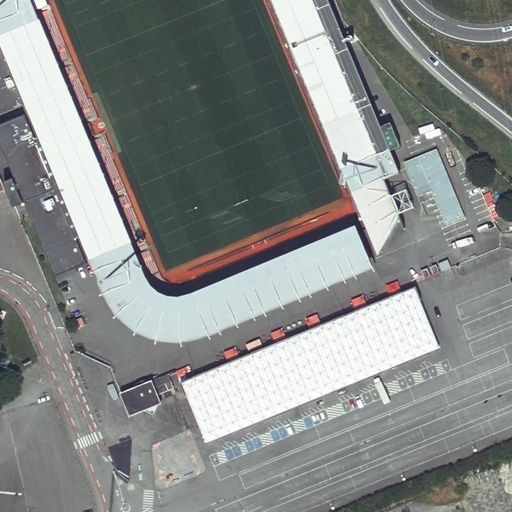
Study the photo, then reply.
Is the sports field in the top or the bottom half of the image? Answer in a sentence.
The top half of the photo is where the sports field is.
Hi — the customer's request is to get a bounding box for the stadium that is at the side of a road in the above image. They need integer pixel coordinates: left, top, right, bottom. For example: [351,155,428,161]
[0,0,400,348]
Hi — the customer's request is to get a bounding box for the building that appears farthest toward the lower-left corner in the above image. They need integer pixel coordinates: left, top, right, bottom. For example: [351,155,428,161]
[108,438,132,484]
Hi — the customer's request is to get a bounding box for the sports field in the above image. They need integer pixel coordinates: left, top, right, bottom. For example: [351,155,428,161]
[58,0,343,271]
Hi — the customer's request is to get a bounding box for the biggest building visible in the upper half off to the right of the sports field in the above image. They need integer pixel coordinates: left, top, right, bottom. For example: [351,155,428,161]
[404,149,466,225]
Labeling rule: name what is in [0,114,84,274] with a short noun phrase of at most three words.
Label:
building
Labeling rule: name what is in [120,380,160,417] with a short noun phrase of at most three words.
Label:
building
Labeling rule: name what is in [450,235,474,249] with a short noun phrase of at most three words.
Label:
vehicle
